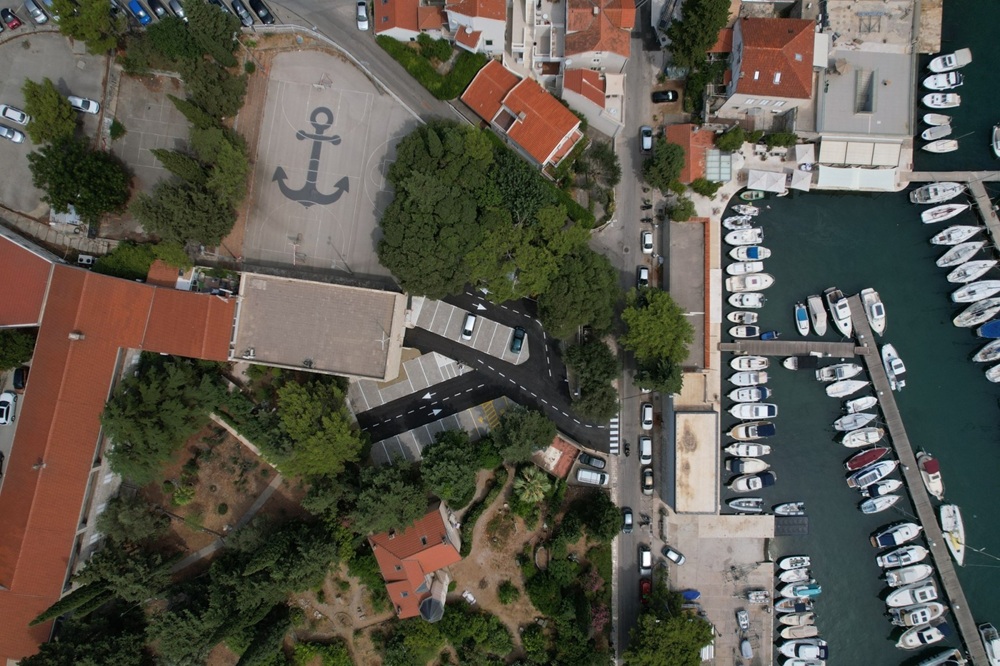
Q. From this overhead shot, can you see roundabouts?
No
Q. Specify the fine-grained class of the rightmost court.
basketball court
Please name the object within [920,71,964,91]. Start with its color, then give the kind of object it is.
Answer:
white boat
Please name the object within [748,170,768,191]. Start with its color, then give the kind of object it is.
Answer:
white umbrella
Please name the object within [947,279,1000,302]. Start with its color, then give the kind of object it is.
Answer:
white boat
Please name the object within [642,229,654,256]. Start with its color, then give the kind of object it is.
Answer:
white vehicle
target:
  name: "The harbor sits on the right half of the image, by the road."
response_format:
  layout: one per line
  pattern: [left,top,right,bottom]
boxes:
[661,134,914,666]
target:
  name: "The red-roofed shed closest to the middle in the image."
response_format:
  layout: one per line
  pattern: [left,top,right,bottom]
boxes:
[532,433,579,478]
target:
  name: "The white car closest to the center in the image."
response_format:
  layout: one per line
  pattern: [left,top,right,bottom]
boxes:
[461,312,478,341]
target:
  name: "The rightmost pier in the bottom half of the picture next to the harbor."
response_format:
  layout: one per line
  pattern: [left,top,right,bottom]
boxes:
[847,293,987,666]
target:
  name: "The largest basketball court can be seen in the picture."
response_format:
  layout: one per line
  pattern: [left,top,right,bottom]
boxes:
[243,49,422,296]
